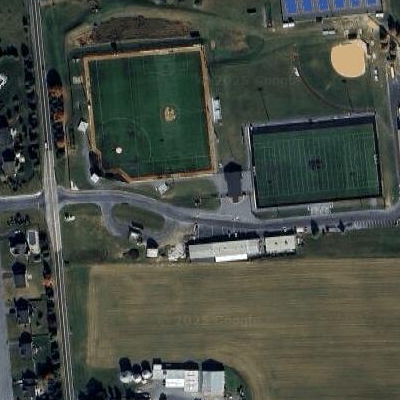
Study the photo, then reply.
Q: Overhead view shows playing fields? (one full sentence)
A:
Yes, the image includes a playing field.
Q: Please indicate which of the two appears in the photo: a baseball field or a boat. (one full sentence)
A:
It is a baseball field that can be seen here.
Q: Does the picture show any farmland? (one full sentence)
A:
Yes, farmland shows up in the scene.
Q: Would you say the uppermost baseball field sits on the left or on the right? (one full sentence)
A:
The uppermost baseball field appears in the right half of the scene.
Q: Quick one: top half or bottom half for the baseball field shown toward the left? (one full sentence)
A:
The baseball field shown toward the left sits in the top half of the picture.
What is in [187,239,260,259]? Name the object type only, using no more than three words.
building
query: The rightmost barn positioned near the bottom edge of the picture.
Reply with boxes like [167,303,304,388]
[201,370,225,395]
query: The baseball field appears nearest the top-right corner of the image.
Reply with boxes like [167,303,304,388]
[294,40,374,113]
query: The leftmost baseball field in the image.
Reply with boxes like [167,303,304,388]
[82,45,216,184]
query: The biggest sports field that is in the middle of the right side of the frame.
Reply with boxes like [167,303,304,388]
[248,112,382,211]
